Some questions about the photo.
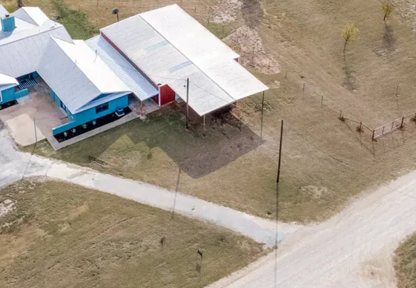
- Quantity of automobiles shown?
none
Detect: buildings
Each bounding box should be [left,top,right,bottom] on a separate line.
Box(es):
[100,4,269,134]
[0,4,133,135]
